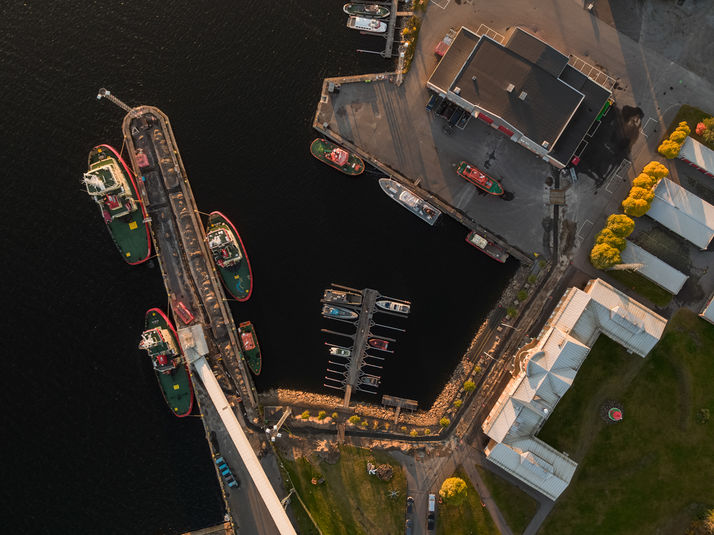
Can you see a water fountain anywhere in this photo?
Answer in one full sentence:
No, no water fountain is visible in the scene.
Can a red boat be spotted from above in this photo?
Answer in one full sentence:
Yes, you can see a red boat in this photo.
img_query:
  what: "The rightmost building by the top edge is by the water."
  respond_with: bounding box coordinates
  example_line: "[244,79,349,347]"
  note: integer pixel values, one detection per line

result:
[425,25,612,169]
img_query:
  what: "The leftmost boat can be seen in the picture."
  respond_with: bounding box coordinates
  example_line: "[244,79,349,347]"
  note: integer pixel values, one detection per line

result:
[83,144,153,266]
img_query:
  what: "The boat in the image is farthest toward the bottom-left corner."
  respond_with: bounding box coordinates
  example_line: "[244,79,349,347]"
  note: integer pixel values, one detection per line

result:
[137,306,196,418]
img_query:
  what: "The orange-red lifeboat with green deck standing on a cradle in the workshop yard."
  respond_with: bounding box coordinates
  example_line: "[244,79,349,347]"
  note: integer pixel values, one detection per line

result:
[457,162,504,194]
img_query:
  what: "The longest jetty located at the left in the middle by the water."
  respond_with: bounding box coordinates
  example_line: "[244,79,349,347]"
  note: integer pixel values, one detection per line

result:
[123,105,259,404]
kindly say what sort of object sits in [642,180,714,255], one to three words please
shed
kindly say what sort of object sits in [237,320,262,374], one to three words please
boat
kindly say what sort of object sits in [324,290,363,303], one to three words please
boat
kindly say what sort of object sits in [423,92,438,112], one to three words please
car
